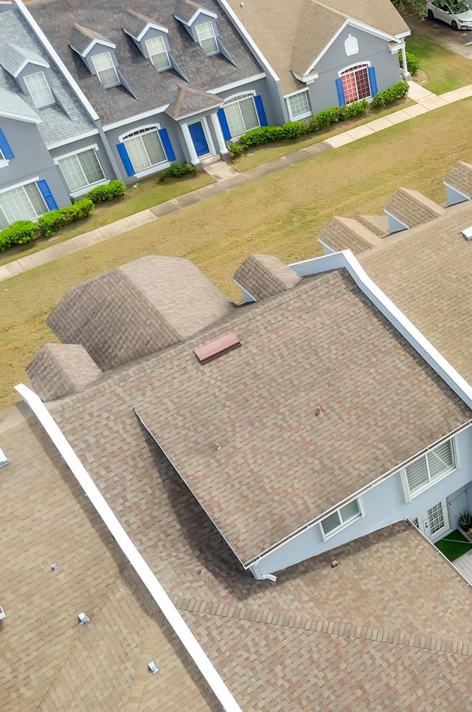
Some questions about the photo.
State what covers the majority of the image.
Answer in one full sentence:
What you mostly see from above here is buildings.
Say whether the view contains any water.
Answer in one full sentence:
No, there is no water in the image.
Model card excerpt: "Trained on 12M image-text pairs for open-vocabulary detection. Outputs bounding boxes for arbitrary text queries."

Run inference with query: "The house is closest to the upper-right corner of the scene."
[224,0,419,122]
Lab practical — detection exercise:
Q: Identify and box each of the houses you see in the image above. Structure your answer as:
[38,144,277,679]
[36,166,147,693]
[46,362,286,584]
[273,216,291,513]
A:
[224,0,419,122]
[22,0,279,182]
[0,394,223,712]
[319,162,472,385]
[0,9,113,230]
[25,252,472,712]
